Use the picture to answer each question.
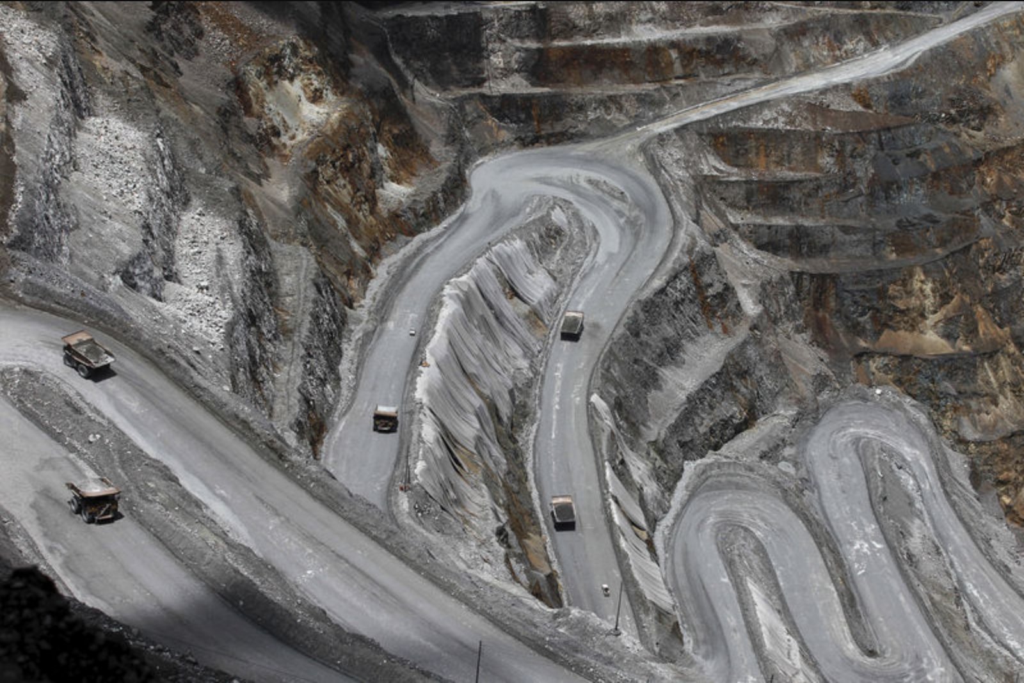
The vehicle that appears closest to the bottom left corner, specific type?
truck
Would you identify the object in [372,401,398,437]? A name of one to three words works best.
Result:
truck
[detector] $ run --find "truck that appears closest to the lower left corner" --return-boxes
[68,468,122,524]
